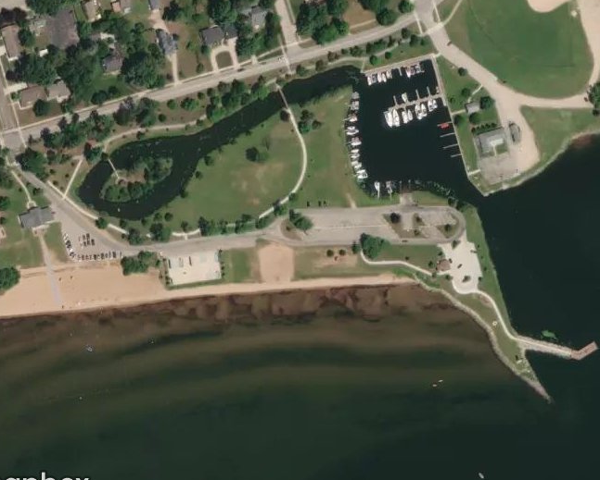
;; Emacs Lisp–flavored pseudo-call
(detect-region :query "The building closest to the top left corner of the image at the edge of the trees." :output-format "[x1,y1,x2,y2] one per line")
[0,23,22,56]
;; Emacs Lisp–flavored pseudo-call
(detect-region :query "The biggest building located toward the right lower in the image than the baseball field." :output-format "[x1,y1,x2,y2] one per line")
[477,127,504,157]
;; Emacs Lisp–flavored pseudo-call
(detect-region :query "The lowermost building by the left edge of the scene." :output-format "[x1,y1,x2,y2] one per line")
[28,206,54,227]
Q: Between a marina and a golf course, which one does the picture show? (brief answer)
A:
marina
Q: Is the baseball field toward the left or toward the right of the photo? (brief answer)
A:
right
